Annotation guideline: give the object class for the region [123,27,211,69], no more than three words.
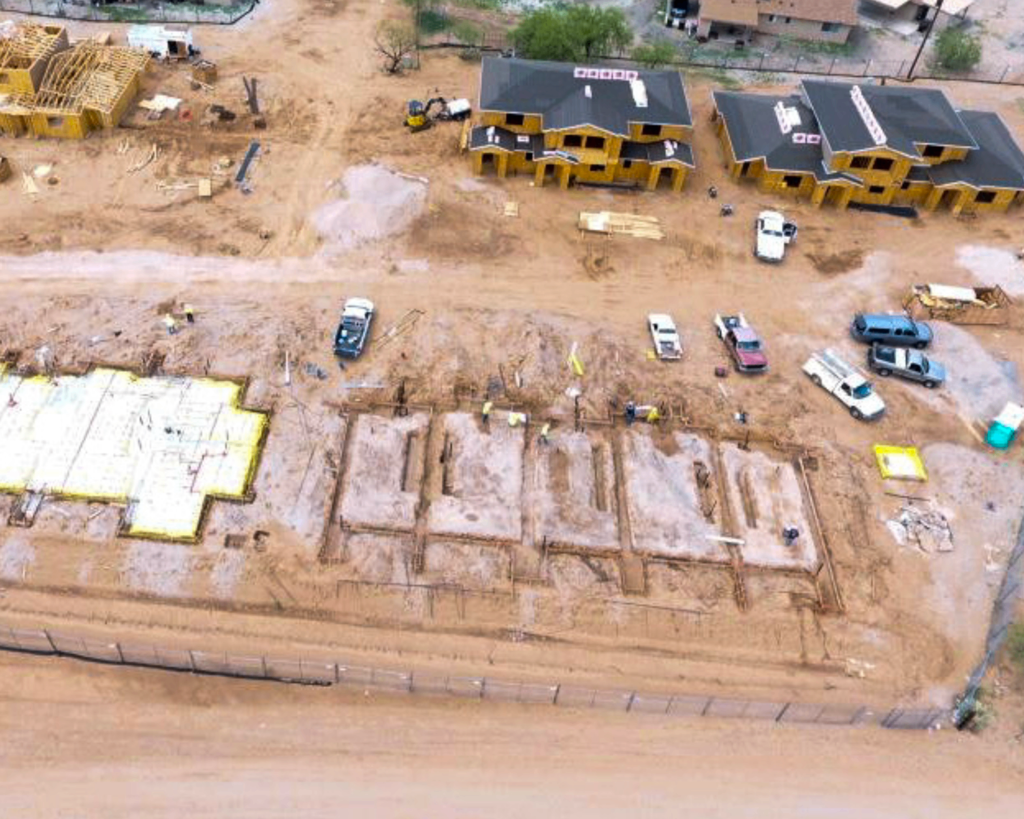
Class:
trailer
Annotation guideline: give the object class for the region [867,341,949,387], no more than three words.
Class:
truck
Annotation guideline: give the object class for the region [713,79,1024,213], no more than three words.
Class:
house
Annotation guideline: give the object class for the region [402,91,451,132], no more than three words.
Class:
work vehicle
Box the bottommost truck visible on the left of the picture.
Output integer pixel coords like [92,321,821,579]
[330,300,374,357]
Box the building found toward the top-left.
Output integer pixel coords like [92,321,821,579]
[0,16,158,141]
